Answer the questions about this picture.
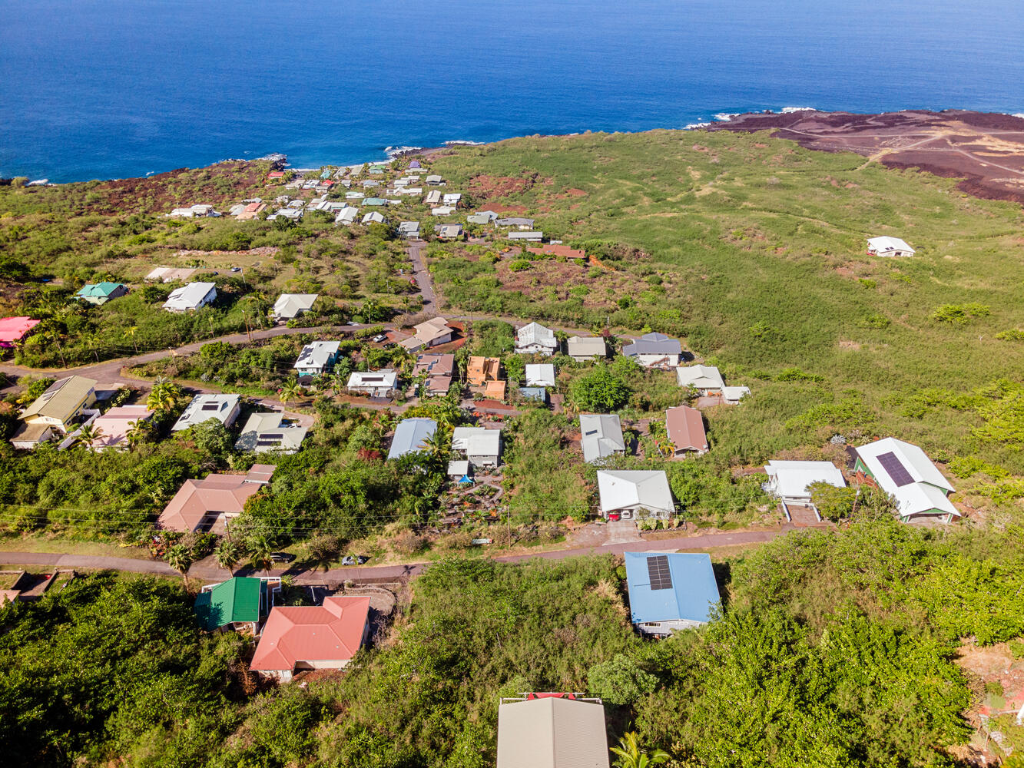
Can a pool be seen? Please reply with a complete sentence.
No, I find no pool anywhere in the image.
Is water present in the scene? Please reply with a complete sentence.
Yes, water shows up in the scene.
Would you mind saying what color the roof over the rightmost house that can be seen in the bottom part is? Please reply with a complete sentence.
From above, the roof of the rightmost house that can be seen in the bottom part looks white.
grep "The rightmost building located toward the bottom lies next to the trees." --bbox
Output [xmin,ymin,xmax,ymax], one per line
[858,442,963,524]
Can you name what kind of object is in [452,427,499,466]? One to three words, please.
house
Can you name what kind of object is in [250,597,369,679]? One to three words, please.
house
